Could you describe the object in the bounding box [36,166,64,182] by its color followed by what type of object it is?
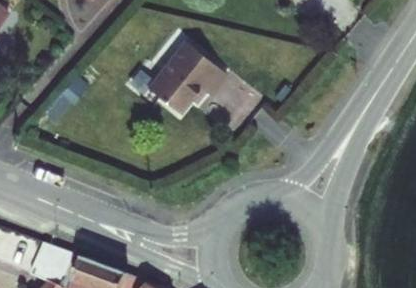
white vehicle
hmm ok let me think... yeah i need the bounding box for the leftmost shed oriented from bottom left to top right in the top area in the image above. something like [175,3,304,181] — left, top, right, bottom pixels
[50,78,86,120]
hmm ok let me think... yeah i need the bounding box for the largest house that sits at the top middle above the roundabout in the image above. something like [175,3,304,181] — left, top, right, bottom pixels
[150,35,222,118]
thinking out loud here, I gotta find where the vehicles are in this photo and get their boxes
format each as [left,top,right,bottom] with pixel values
[36,166,64,182]
[15,240,27,263]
